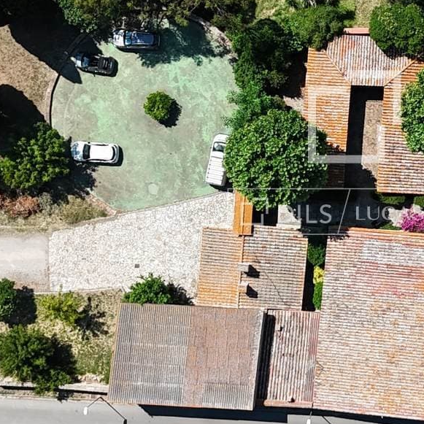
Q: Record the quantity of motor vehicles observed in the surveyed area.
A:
4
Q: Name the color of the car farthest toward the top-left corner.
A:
black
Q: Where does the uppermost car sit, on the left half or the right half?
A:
left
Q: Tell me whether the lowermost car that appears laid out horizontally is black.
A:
No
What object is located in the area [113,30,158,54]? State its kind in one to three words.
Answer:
car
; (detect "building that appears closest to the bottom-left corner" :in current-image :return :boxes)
[108,296,269,410]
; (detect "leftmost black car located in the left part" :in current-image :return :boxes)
[74,51,119,79]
